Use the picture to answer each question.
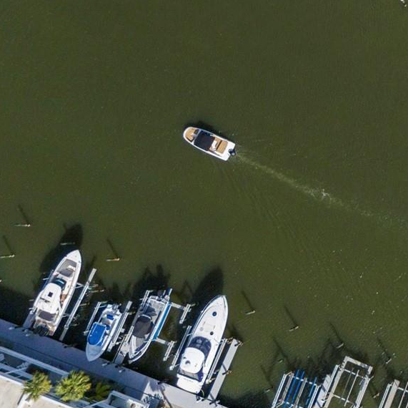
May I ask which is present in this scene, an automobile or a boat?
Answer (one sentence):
Visible in the photo is a boat.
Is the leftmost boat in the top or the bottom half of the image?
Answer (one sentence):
Seen from above, the leftmost boat lies in the bottom half of the view.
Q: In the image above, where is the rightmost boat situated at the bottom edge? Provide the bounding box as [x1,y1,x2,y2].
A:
[177,296,230,400]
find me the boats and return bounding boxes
[177,296,230,400]
[84,301,124,361]
[126,288,172,362]
[29,250,84,341]
[183,129,237,161]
